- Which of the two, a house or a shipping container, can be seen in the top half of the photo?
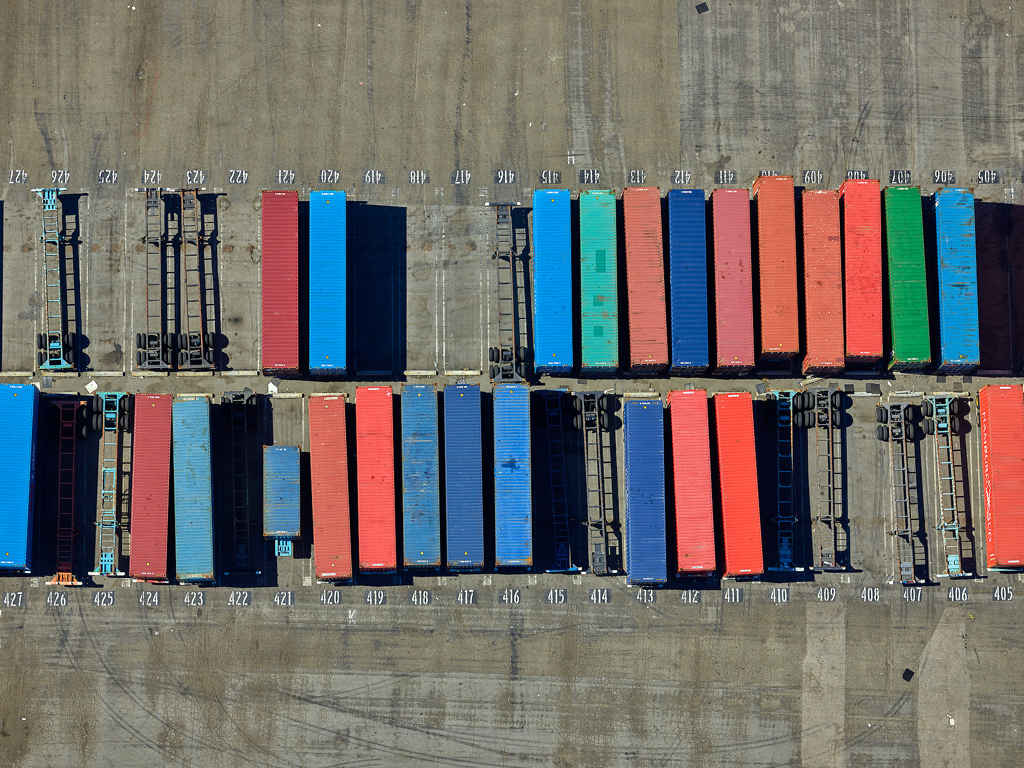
shipping container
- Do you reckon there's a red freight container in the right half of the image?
Yes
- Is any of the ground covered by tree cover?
No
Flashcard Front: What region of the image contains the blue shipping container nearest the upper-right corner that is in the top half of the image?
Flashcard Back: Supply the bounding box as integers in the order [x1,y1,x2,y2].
[930,188,980,371]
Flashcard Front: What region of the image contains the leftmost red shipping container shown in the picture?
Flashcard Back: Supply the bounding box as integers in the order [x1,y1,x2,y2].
[129,393,173,580]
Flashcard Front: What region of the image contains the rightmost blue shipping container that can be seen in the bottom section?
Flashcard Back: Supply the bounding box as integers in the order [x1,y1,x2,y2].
[622,400,667,586]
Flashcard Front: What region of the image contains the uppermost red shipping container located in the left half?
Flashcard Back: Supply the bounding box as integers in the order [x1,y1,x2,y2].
[262,190,300,375]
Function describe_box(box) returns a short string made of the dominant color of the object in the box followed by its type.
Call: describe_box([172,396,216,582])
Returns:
blue shipping container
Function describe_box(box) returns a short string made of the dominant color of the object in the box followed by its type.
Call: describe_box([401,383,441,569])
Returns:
blue shipping container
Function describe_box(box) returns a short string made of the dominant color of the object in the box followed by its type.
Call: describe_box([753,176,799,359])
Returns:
red shipping container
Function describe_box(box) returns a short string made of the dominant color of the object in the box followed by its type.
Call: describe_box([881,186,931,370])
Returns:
green shipping container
